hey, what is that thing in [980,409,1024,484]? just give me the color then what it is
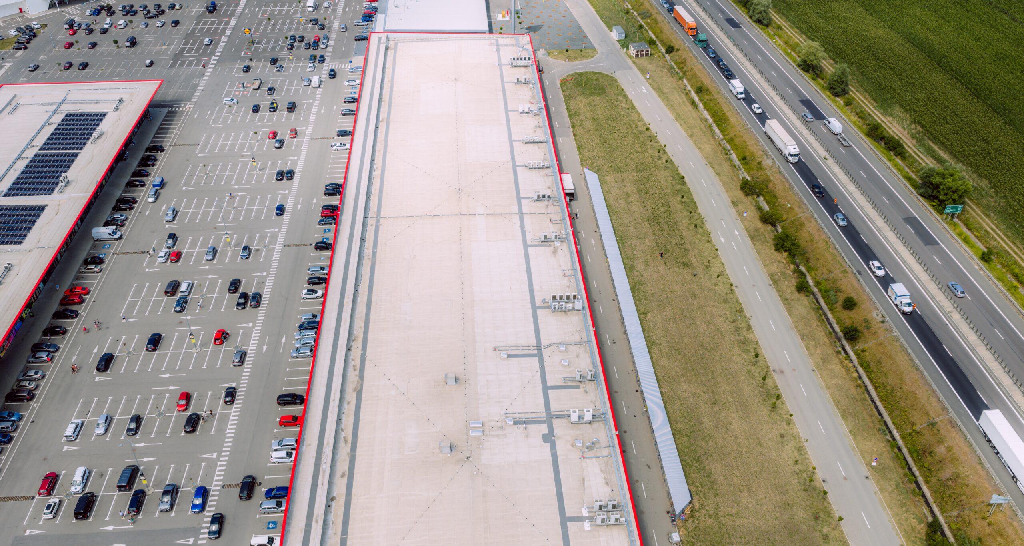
white trailer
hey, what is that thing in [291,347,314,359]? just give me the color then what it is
gray vehicle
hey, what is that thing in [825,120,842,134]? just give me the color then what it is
white vehicle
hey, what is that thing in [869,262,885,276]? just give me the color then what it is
white car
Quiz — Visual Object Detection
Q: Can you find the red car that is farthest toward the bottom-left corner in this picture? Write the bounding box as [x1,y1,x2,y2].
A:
[37,473,59,498]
